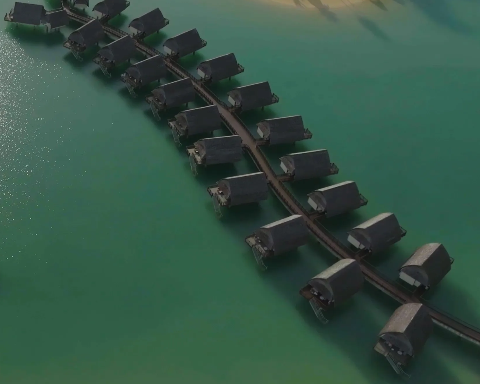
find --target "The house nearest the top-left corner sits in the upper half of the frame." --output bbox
[1,1,47,31]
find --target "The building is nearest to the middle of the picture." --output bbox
[200,170,268,214]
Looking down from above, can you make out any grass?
No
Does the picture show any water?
Yes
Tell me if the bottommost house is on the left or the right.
right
